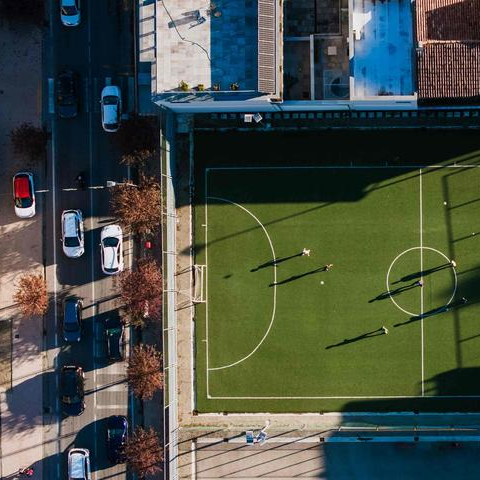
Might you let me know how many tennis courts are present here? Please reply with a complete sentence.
There are no tennis courts in the image.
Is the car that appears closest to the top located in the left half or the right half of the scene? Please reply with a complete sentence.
The car that appears closest to the top appears in the left half of the scene.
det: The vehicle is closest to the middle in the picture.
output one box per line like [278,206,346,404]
[98,223,124,276]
